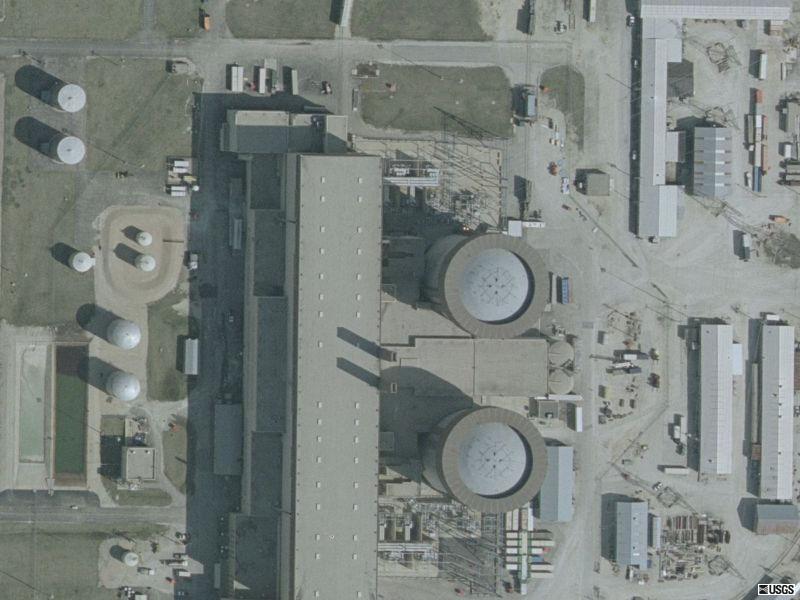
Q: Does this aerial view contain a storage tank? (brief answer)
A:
Yes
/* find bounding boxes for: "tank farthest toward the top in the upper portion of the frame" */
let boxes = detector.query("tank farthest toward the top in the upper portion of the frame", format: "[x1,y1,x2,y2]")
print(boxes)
[48,82,86,115]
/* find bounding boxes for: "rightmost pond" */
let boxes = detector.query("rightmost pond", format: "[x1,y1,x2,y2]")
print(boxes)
[55,343,89,489]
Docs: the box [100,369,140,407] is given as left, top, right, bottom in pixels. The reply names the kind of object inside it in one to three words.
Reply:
storage tank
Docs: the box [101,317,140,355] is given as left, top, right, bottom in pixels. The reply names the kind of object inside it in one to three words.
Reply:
storage tank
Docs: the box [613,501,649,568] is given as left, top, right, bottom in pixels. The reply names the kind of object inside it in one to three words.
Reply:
building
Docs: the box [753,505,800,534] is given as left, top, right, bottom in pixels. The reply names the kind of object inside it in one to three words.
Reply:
building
